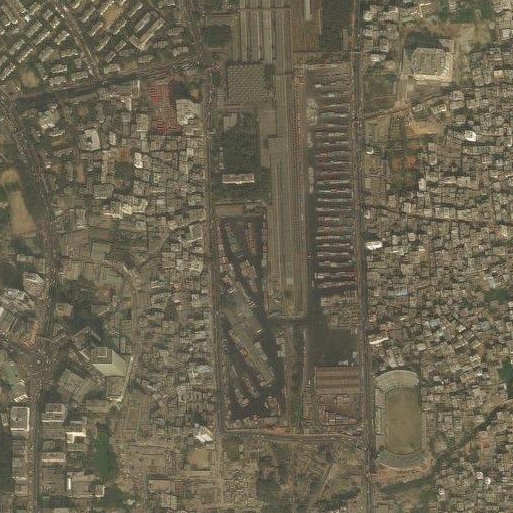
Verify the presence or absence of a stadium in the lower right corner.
Yes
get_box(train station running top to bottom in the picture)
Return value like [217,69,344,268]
[217,0,293,307]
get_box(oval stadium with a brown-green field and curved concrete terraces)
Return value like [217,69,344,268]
[374,369,428,468]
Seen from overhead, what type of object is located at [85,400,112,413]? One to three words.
building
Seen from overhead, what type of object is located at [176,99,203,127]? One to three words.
building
